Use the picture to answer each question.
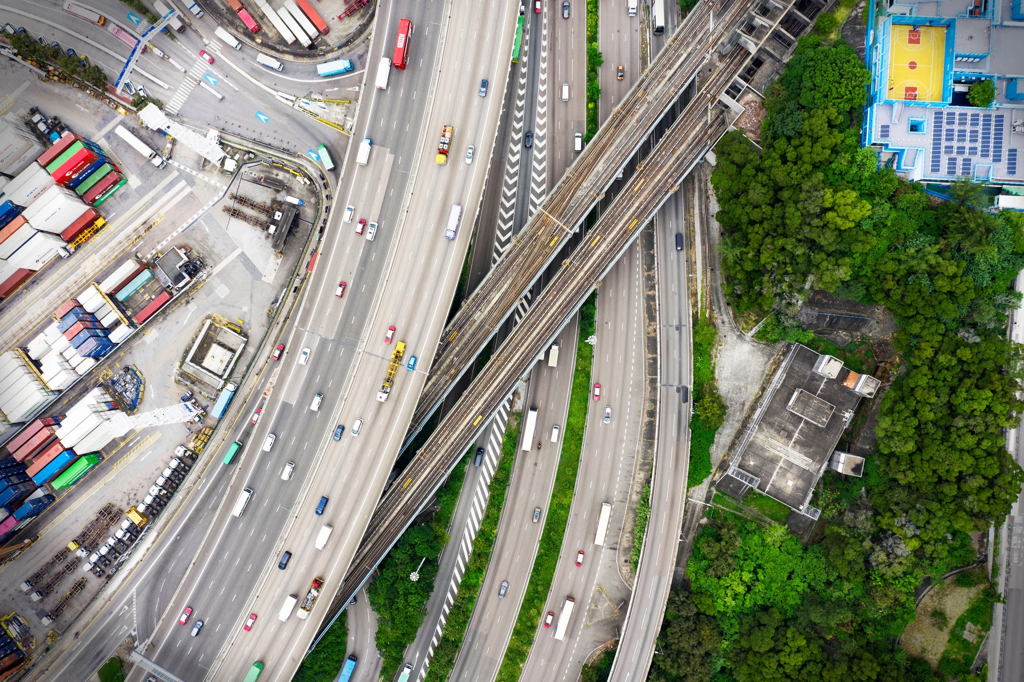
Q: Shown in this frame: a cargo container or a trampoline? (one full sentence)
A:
I can see a cargo container in this picture.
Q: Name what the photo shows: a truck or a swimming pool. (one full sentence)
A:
The one in the frame is a truck.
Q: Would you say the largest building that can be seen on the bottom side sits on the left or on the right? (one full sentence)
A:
You can find the largest building that can be seen on the bottom side on the right side of the picture.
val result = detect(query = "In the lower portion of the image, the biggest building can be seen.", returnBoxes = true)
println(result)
[716,344,881,532]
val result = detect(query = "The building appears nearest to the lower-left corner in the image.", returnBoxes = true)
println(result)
[180,320,253,397]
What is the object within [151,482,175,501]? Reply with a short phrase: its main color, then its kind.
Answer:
white vehicle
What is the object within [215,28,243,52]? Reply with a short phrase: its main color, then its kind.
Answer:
white truck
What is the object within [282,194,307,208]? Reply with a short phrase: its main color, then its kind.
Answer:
white vehicle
